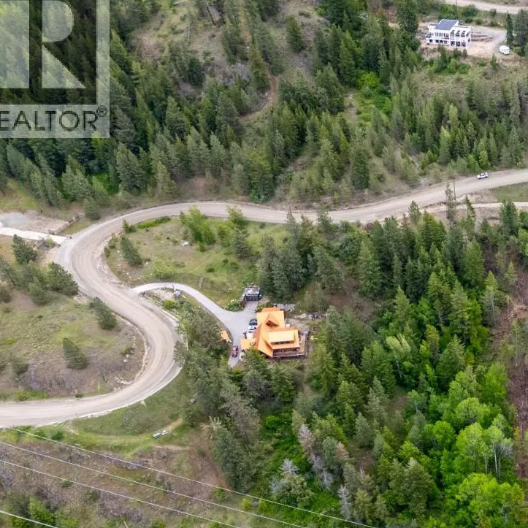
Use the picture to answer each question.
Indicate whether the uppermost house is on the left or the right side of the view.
right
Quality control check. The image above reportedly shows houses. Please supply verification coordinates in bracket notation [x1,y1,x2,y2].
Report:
[428,19,471,49]
[241,303,307,364]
